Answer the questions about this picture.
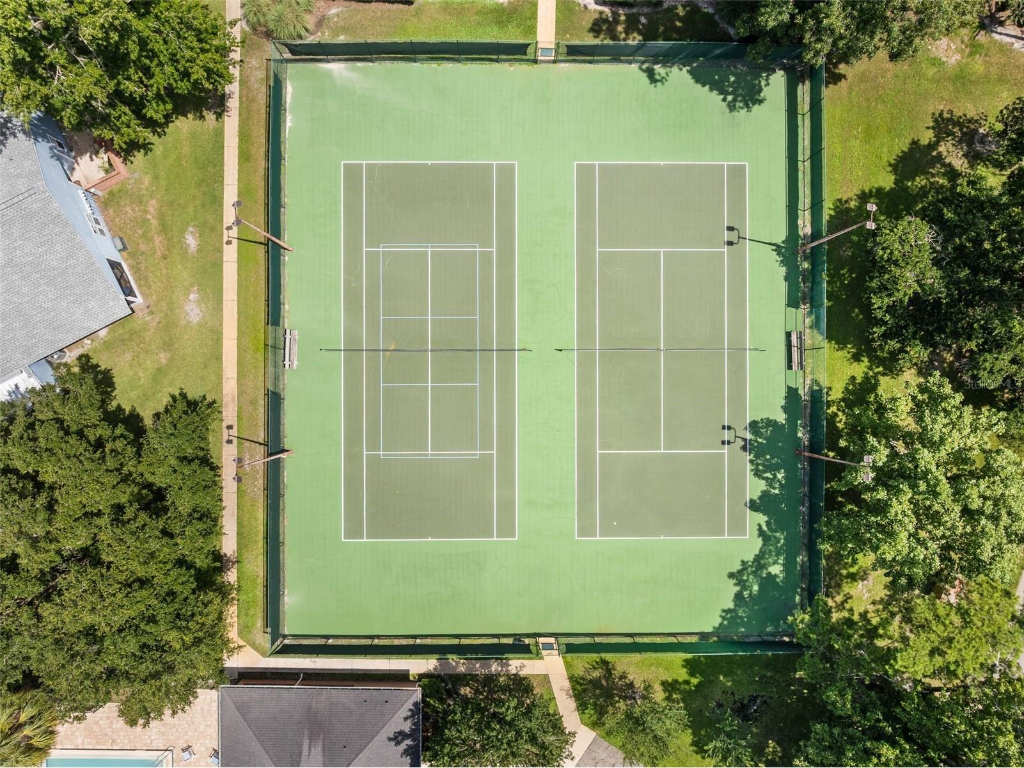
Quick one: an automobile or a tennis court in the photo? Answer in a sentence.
There is a tennis court in the scene.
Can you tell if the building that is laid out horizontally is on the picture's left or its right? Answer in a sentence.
It is on the left.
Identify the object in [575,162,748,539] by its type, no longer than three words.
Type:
tennis court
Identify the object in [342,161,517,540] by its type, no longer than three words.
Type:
tennis court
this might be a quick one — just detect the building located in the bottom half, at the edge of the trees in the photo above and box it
[216,671,423,768]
